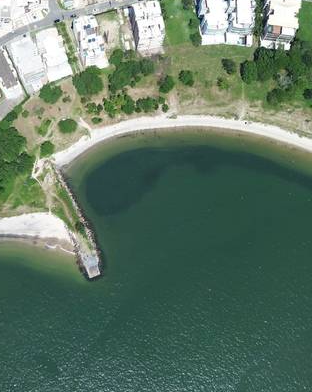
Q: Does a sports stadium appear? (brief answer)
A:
No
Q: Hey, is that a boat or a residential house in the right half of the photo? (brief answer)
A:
residential house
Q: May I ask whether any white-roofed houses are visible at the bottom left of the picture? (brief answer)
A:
No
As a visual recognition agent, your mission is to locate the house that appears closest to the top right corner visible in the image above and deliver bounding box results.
[257,0,302,51]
